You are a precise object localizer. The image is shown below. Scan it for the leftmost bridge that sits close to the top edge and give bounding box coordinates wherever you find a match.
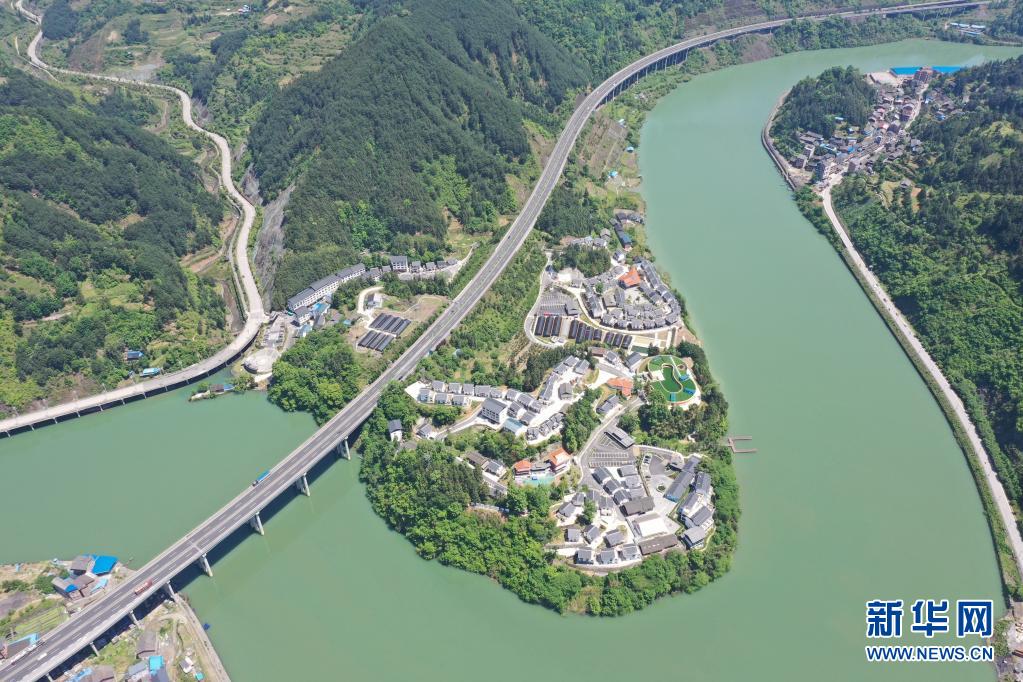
[589,26,758,101]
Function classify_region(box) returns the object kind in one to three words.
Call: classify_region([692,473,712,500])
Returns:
house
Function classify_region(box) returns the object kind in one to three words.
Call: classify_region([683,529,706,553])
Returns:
house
